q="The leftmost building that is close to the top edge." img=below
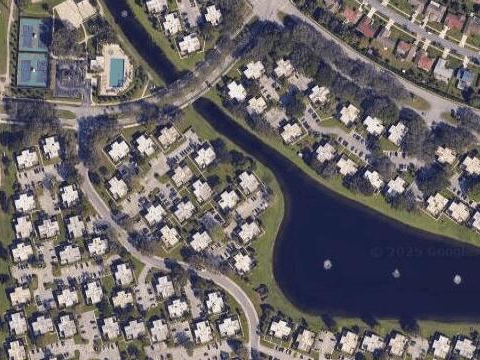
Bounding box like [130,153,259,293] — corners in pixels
[54,0,98,28]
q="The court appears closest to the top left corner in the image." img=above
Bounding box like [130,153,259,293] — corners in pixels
[20,18,53,51]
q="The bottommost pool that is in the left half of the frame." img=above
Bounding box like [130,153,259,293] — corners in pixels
[100,45,133,95]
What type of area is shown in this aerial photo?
residential area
